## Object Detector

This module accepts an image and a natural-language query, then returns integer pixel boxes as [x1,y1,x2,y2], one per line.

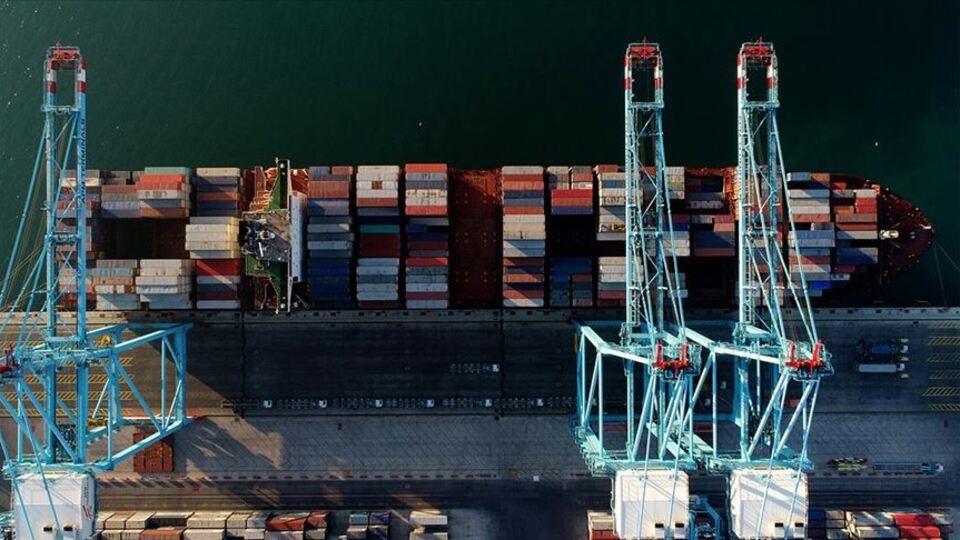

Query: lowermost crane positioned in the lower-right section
[686,487,722,540]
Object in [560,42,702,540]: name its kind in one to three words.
container crane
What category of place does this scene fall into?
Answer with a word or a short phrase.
port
